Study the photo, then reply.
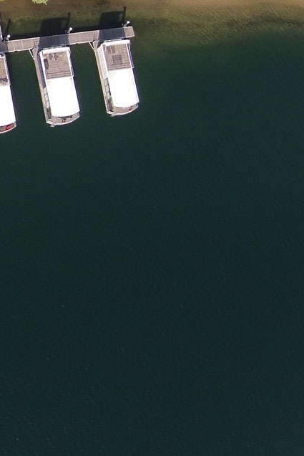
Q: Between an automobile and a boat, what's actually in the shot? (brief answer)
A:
boat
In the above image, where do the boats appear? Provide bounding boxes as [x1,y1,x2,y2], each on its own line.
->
[0,53,16,135]
[93,40,140,118]
[33,46,79,128]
